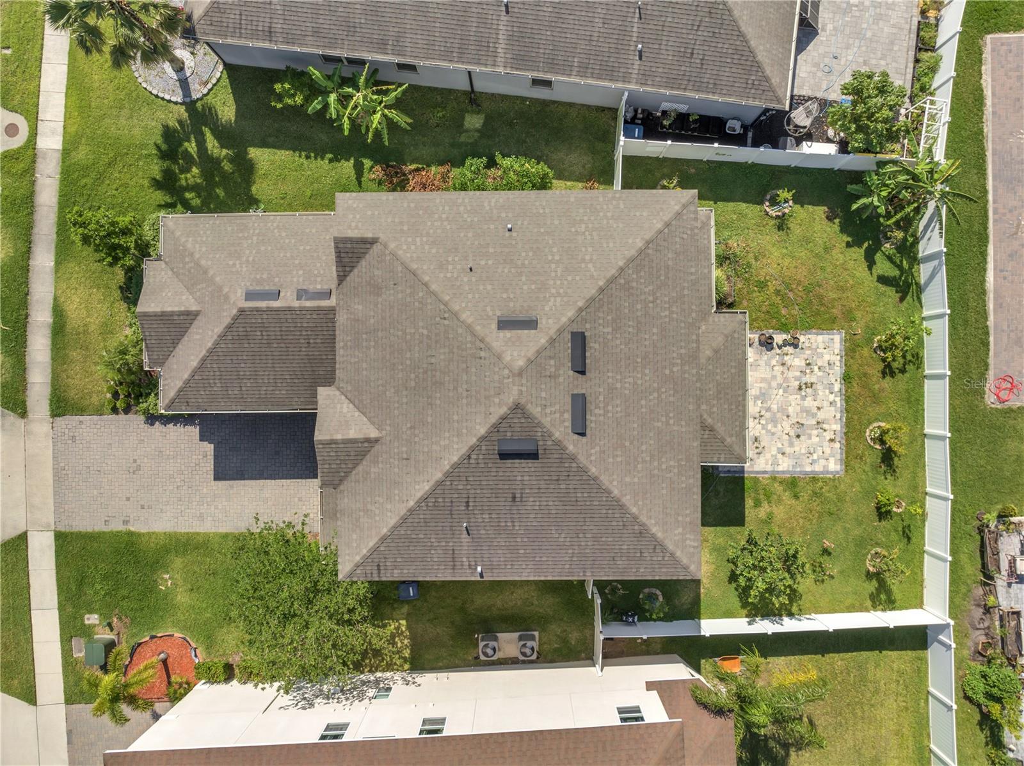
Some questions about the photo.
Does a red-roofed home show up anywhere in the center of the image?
No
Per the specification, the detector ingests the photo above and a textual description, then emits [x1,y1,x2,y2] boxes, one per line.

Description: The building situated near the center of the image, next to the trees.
[135,189,752,583]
